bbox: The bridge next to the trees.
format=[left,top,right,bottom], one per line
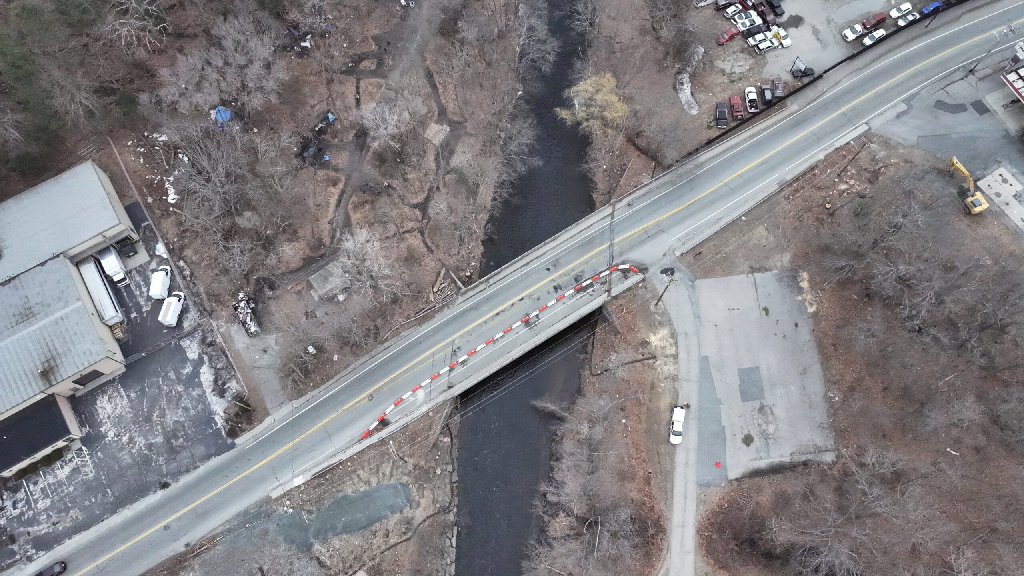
[429,179,622,452]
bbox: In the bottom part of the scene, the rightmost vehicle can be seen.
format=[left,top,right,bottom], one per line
[670,406,686,445]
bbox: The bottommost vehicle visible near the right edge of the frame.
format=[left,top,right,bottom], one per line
[943,157,988,221]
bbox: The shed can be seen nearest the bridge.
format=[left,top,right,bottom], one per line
[309,261,351,296]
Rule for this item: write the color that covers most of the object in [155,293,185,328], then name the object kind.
white van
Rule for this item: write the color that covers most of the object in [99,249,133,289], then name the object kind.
white truck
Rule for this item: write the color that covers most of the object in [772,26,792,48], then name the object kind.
white car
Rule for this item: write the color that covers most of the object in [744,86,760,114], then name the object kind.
white vehicle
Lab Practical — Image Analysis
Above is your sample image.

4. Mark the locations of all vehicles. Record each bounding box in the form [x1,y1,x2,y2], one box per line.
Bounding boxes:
[670,406,686,445]
[894,10,922,27]
[887,0,916,20]
[155,293,185,328]
[729,95,746,122]
[145,267,173,301]
[740,24,771,42]
[712,0,740,13]
[753,39,782,58]
[35,560,69,576]
[738,0,752,11]
[943,157,988,221]
[714,26,741,46]
[772,26,792,48]
[744,86,760,114]
[730,10,759,27]
[771,76,785,100]
[753,0,777,26]
[736,17,765,34]
[765,0,788,18]
[863,10,889,32]
[745,32,774,50]
[759,83,775,106]
[861,27,888,47]
[790,67,817,81]
[693,0,717,8]
[843,16,878,41]
[99,249,133,289]
[721,3,744,20]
